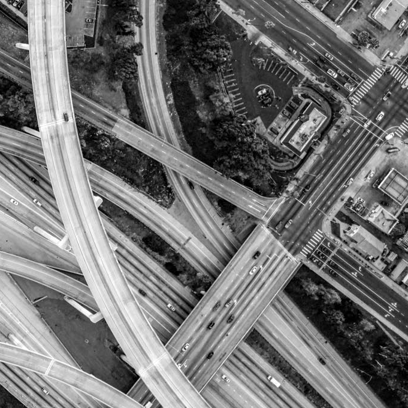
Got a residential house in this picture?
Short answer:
Yes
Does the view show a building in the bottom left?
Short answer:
No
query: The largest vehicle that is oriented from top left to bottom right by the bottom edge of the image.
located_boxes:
[268,375,285,390]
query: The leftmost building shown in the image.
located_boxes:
[274,102,327,155]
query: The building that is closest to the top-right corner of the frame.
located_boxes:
[366,0,408,30]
